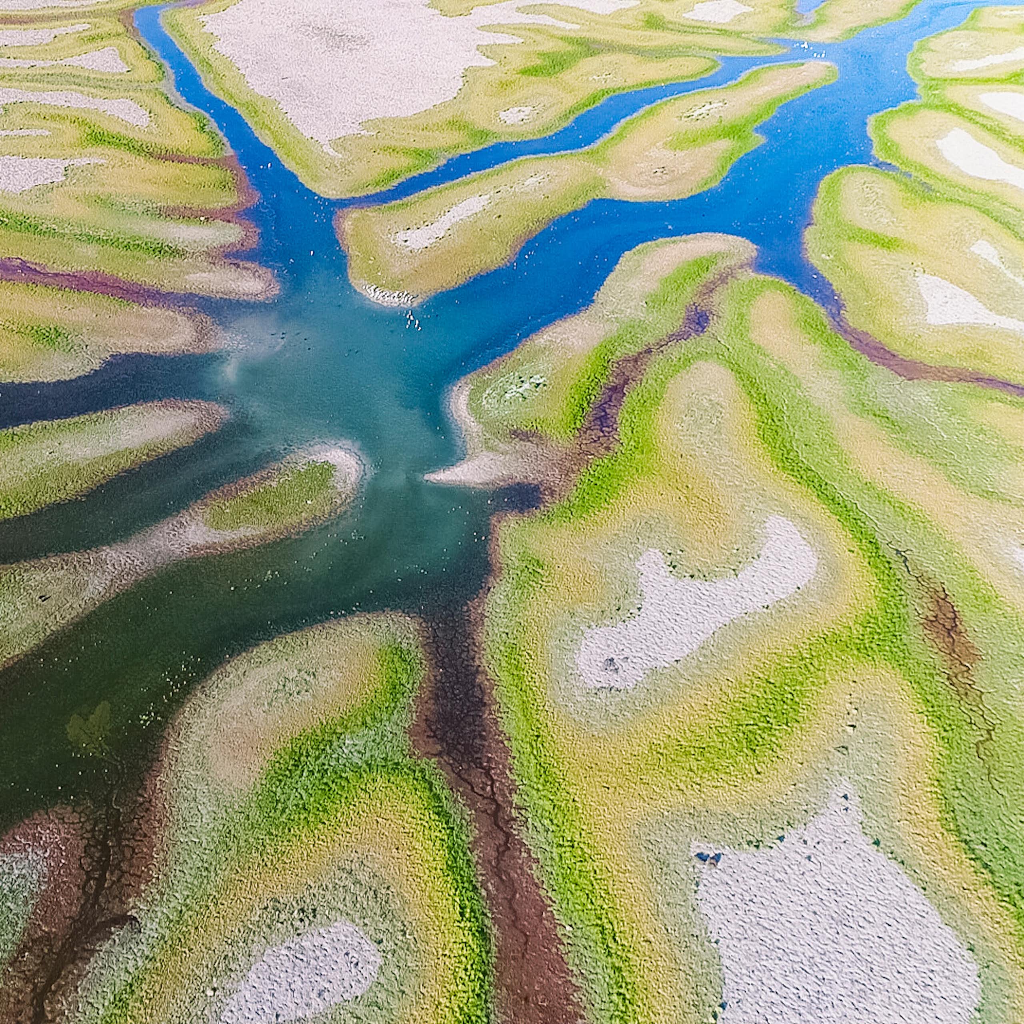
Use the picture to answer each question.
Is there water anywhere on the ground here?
Yes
